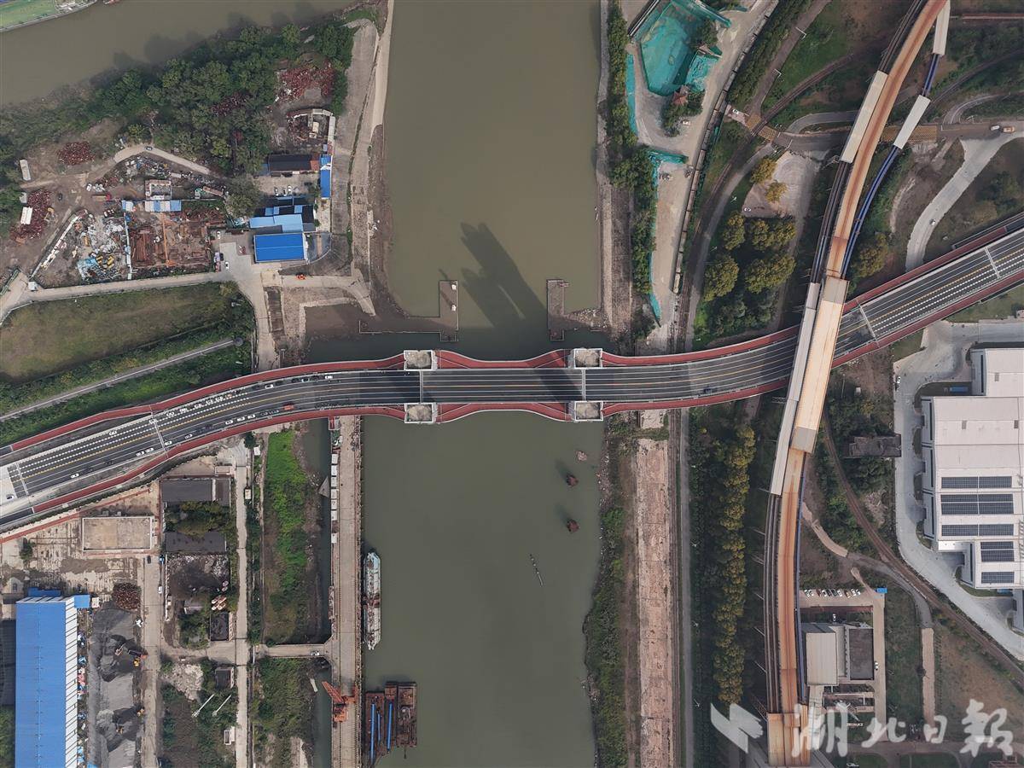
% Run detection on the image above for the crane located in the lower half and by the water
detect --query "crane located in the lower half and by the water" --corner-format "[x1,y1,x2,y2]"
[321,673,358,722]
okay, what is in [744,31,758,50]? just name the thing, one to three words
rail car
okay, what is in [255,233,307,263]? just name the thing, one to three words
building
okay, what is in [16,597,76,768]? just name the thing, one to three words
building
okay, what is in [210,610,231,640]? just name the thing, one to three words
house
